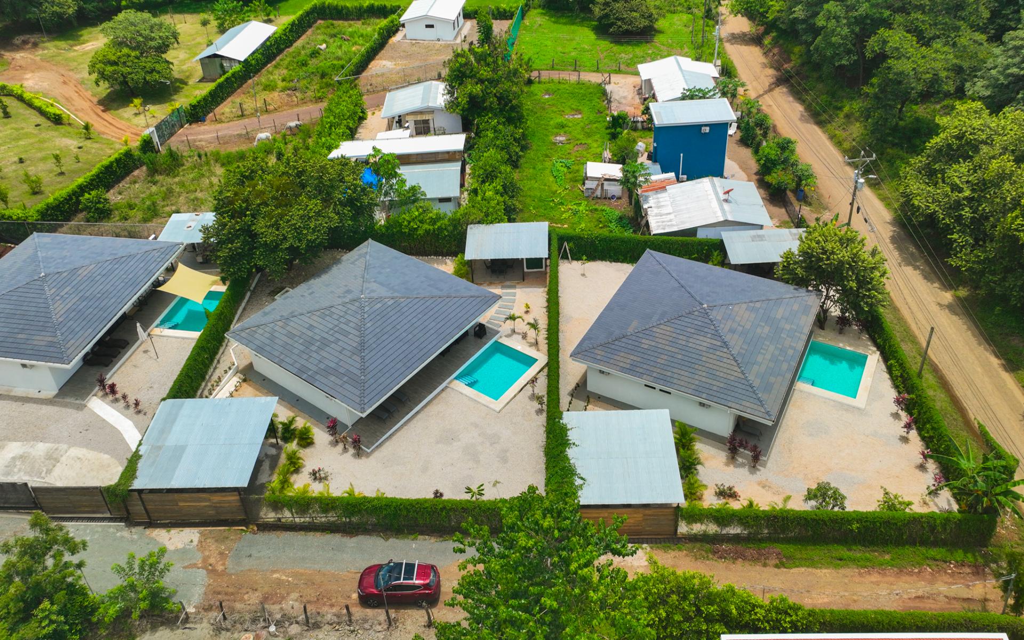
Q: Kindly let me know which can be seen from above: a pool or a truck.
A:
pool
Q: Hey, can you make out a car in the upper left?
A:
No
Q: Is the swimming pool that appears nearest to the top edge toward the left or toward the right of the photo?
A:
left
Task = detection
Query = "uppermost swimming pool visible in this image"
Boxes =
[150,285,234,338]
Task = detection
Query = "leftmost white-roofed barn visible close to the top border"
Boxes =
[193,20,278,81]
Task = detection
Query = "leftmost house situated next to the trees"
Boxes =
[0,228,183,403]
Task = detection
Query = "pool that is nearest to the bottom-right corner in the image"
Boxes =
[798,334,878,408]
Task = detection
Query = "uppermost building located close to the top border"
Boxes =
[399,0,465,38]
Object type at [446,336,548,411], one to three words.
swimming pool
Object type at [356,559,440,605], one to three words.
car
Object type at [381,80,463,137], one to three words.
house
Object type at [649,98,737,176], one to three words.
building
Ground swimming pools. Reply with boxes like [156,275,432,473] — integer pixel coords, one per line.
[150,285,234,338]
[446,336,548,411]
[798,334,878,408]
